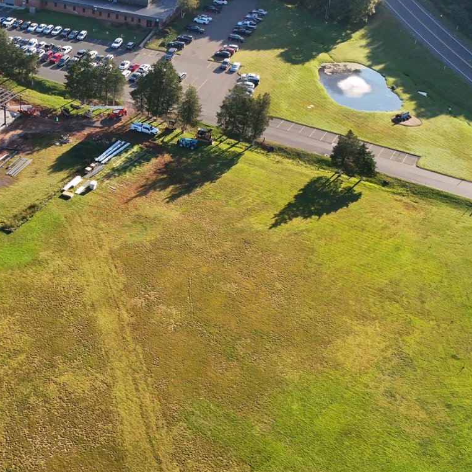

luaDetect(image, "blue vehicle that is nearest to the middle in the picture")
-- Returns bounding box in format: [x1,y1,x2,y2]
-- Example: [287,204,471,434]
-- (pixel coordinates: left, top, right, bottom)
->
[169,135,201,150]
